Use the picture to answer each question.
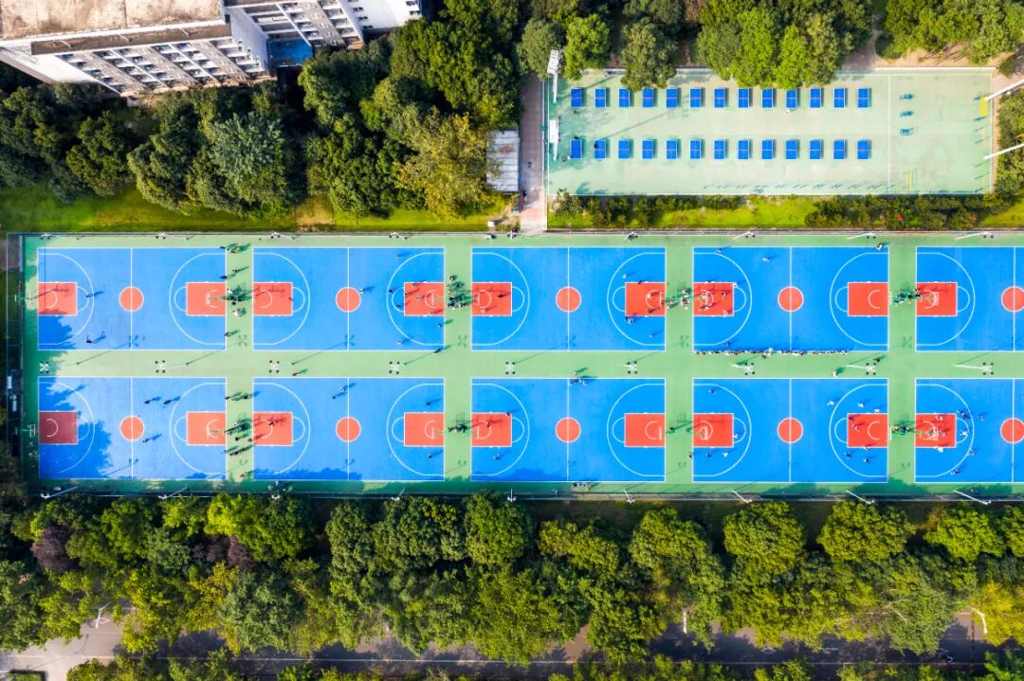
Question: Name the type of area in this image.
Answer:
sports ground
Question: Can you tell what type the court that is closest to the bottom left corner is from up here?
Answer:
basketball court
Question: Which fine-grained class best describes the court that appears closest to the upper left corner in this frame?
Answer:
basketball court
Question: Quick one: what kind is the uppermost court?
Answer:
tennis court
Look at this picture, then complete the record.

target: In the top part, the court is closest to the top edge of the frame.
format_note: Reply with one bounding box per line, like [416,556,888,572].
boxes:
[547,65,995,197]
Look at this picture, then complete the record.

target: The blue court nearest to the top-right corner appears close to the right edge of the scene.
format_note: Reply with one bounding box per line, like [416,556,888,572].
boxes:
[915,246,1024,351]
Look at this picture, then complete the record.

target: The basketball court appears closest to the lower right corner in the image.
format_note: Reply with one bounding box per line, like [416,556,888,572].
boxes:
[915,379,1024,484]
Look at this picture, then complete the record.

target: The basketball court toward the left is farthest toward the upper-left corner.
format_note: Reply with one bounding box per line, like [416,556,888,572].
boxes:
[38,247,226,350]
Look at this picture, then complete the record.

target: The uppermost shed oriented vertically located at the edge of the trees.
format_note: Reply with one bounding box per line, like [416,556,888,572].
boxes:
[488,128,519,193]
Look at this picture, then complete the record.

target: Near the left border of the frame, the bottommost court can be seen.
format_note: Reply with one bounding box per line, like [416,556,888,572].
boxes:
[38,377,227,480]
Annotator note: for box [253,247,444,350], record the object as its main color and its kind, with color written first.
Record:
blue basketball court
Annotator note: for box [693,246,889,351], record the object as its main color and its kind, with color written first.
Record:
blue basketball court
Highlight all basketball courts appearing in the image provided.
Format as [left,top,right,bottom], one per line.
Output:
[692,378,889,483]
[915,379,1024,484]
[253,377,444,481]
[471,378,665,482]
[38,247,226,350]
[915,246,1024,351]
[38,377,227,480]
[693,246,889,351]
[253,247,444,350]
[472,246,666,351]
